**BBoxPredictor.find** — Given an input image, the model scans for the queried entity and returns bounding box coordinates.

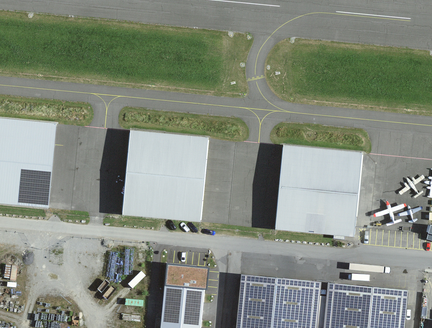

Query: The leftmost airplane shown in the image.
[374,201,408,225]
